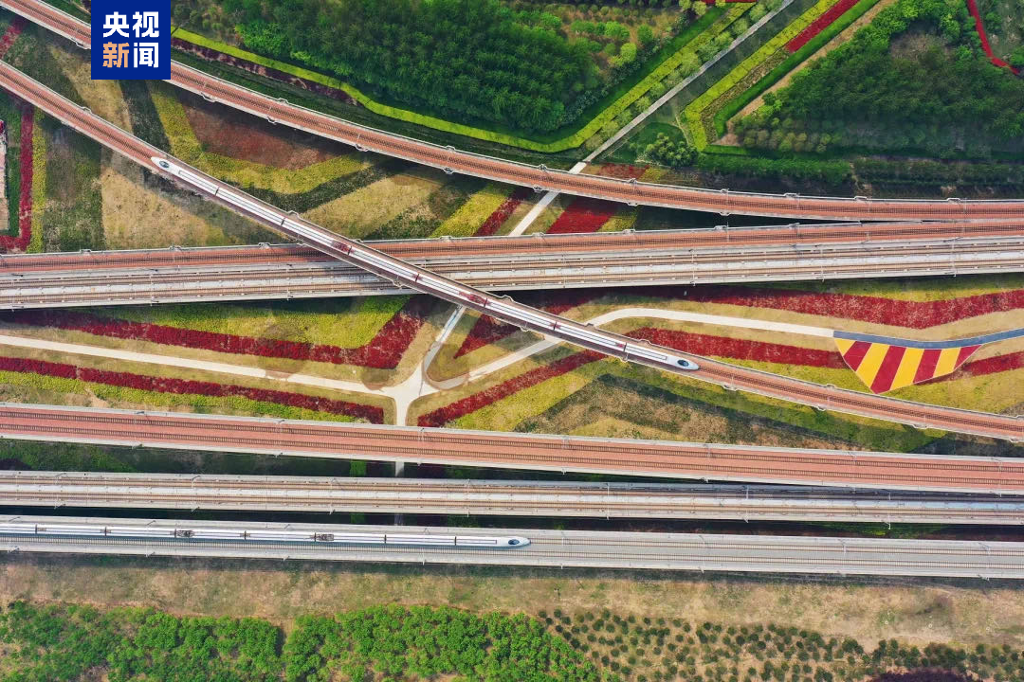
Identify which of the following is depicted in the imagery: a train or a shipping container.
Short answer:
train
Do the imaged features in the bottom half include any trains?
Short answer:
Yes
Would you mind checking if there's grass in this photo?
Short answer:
Yes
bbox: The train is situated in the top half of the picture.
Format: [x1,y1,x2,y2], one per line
[155,159,695,368]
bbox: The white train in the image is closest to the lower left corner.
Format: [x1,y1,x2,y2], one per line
[0,523,527,548]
